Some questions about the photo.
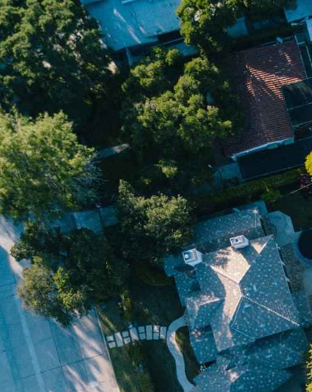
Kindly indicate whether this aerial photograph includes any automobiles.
No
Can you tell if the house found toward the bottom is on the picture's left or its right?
right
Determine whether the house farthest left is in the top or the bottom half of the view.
top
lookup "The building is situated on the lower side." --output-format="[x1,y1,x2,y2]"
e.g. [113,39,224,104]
[164,208,308,392]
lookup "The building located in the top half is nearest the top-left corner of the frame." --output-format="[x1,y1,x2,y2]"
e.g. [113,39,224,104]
[78,0,188,56]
